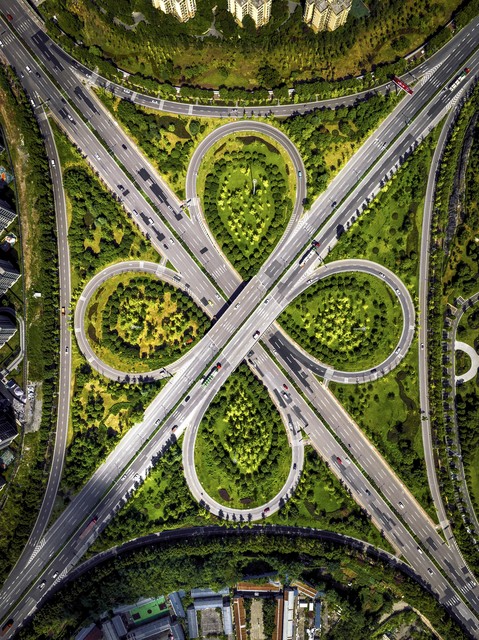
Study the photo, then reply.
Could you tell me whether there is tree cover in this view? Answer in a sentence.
Yes, there is tree cover in the image.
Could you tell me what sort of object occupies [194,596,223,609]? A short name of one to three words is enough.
shed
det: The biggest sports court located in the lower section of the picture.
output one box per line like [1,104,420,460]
[129,596,173,626]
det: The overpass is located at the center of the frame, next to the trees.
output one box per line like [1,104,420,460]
[198,279,287,375]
